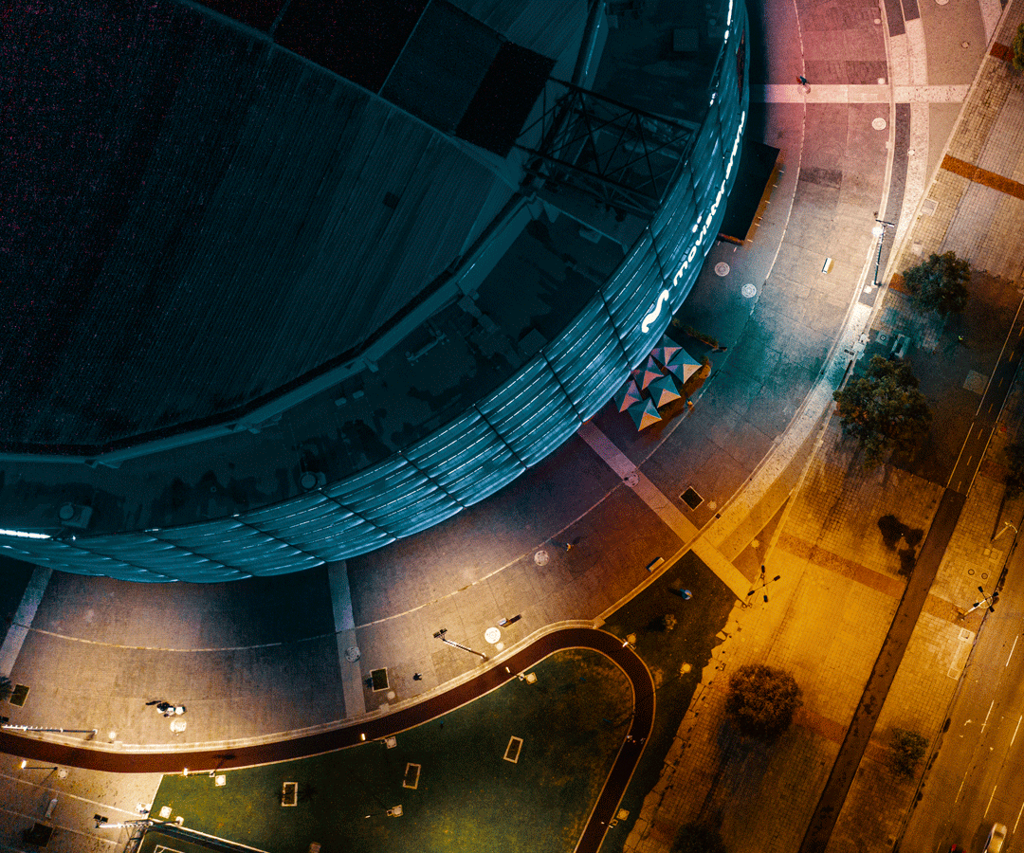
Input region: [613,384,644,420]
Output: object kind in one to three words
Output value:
tent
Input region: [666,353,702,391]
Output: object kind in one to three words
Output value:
tent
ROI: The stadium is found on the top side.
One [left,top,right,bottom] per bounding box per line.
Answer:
[0,0,755,589]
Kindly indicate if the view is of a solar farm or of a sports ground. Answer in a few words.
sports ground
